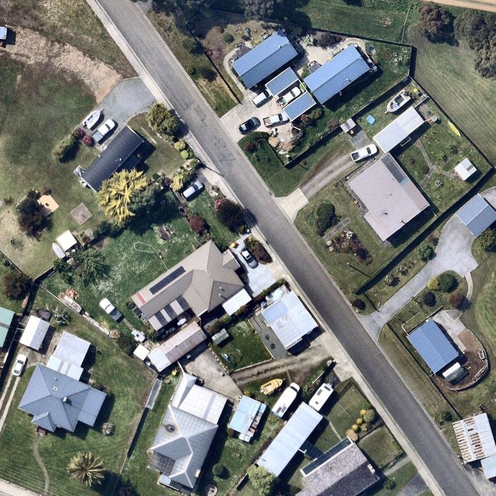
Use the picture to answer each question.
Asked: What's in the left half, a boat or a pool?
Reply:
boat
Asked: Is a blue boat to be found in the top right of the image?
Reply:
No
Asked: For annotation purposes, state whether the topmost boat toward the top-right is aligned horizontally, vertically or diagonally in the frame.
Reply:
diagonally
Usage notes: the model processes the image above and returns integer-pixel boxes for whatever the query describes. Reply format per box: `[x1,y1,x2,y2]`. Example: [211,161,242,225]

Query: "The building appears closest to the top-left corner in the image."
[81,126,143,192]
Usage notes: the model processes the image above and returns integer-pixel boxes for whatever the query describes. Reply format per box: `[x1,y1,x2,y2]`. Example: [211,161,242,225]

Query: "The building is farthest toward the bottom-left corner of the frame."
[17,364,106,432]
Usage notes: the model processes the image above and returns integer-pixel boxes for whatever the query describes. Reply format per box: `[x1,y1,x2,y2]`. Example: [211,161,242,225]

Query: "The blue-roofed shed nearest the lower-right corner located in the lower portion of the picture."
[407,320,458,374]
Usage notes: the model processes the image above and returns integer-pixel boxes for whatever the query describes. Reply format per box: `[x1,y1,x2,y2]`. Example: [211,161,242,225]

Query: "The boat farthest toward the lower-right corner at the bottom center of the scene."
[261,380,283,396]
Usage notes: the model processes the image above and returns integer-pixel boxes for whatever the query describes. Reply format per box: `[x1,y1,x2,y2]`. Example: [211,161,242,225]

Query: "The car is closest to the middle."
[239,246,259,270]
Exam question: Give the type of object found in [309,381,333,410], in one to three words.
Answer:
camper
